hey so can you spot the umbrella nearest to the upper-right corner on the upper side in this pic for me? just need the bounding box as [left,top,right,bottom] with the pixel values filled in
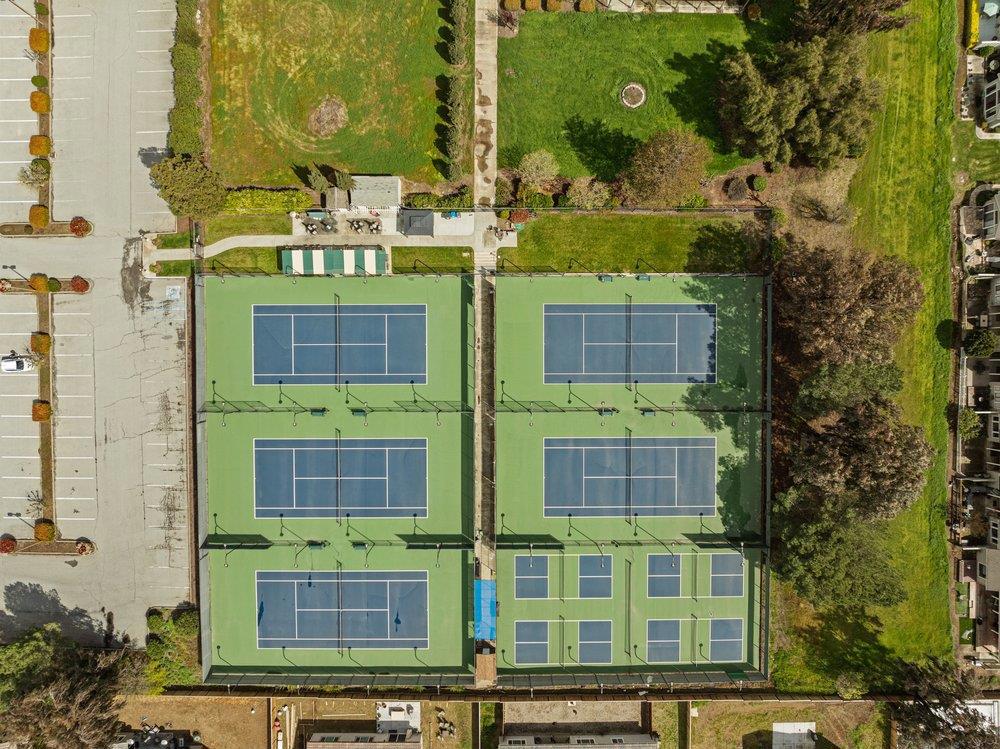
[981,1,996,17]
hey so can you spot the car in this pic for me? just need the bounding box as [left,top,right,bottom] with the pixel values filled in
[1,356,34,373]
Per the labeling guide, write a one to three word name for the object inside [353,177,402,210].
shed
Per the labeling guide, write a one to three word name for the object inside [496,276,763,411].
tennis court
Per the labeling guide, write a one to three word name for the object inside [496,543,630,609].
sports court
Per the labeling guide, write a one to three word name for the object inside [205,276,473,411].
tennis court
